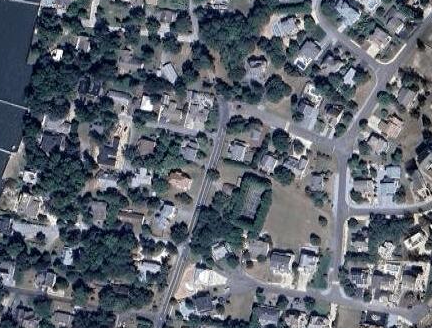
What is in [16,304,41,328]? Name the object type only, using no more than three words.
house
